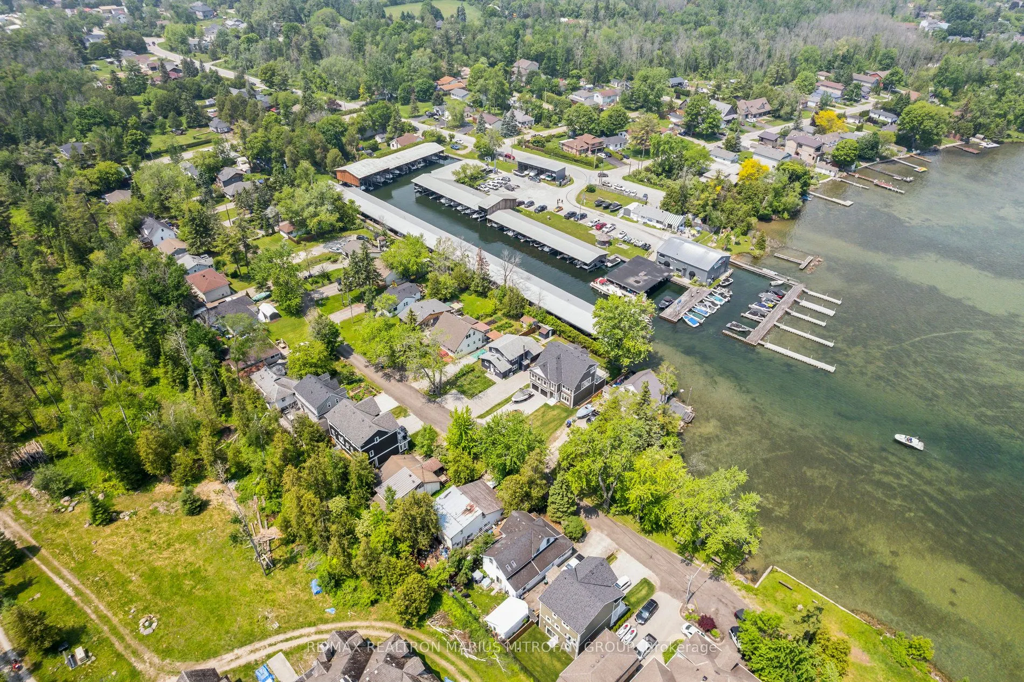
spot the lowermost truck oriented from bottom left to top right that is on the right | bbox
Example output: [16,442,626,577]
[632,624,662,662]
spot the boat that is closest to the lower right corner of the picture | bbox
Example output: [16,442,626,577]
[895,433,928,451]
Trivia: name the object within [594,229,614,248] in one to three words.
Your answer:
gazebo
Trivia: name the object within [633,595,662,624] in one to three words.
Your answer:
car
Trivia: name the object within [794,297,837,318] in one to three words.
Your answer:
pier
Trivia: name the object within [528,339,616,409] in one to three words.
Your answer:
house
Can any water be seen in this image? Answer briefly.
Yes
